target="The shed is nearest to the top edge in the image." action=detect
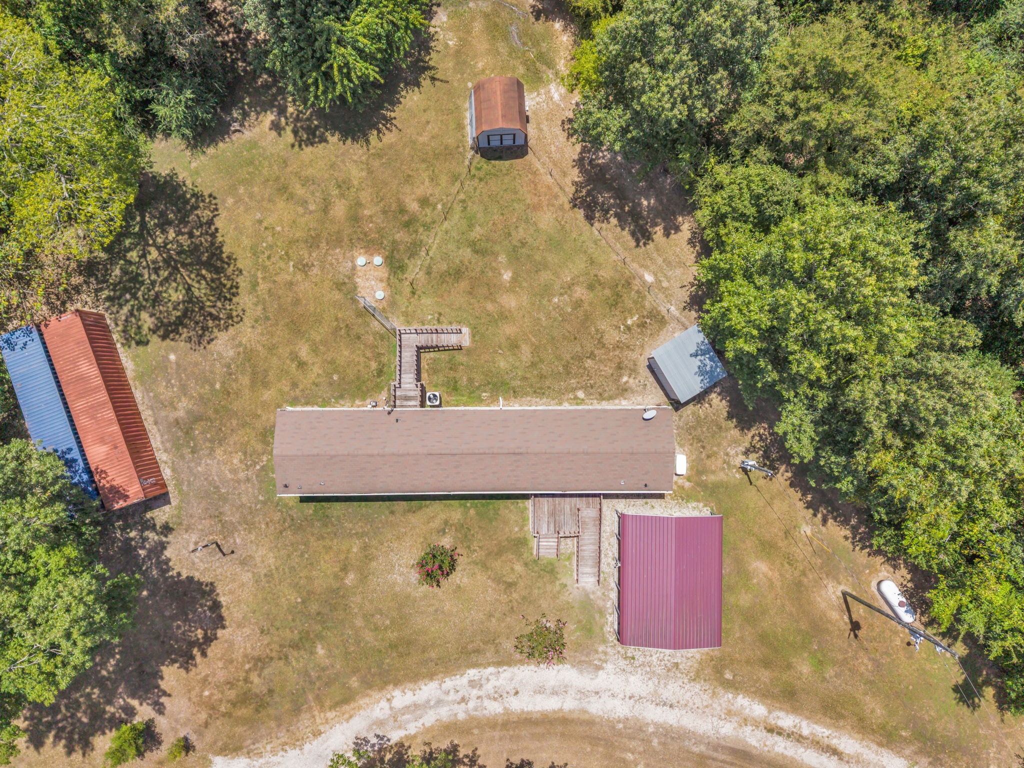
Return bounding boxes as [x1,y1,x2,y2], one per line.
[476,76,527,145]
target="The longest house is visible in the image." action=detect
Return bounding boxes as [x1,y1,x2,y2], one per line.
[271,406,675,498]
